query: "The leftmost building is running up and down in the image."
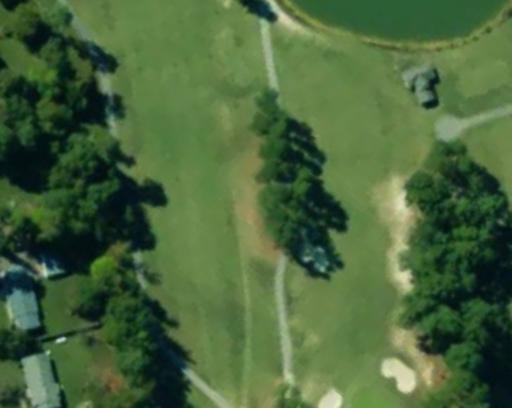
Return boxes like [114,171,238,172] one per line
[3,268,40,329]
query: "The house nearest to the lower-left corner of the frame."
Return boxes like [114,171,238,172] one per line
[23,350,62,408]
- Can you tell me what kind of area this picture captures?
golf course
